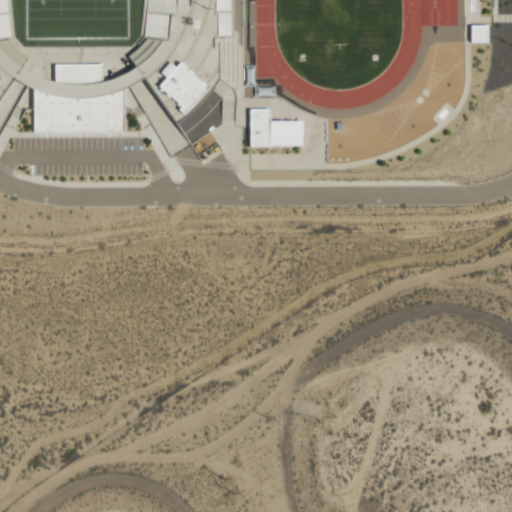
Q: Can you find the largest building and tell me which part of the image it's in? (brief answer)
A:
top left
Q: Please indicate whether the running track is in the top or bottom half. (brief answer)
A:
top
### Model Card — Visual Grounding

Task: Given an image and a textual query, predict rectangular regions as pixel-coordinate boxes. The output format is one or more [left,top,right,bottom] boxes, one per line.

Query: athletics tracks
[256,0,466,118]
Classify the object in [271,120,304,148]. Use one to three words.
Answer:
building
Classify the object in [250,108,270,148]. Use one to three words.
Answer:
building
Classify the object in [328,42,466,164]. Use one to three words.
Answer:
sports field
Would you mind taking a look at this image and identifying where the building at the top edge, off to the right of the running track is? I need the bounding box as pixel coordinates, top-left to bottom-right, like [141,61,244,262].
[471,24,490,44]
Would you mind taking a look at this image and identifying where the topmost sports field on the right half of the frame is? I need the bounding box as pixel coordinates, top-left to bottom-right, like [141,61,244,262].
[276,0,403,90]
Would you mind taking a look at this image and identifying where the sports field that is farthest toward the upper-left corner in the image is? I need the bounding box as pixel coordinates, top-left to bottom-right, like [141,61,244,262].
[12,0,148,46]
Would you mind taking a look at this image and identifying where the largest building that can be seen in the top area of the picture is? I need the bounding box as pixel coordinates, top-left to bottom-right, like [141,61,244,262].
[34,88,124,137]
